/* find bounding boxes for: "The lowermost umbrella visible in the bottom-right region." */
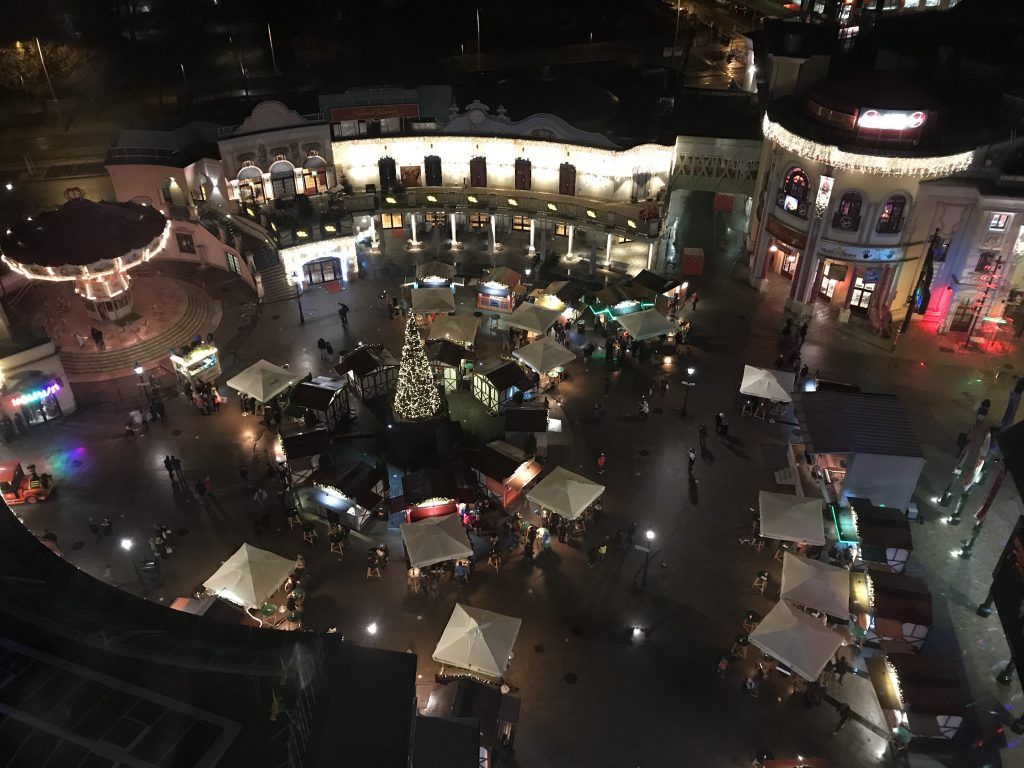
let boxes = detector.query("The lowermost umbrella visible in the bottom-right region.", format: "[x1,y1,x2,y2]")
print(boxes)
[748,600,845,683]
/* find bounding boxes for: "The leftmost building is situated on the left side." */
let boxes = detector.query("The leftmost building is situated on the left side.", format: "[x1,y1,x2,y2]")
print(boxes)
[0,314,75,442]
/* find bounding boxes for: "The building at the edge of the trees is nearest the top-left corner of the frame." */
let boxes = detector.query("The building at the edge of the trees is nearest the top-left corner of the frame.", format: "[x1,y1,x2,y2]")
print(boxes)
[100,114,236,217]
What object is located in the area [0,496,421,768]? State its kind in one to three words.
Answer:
building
